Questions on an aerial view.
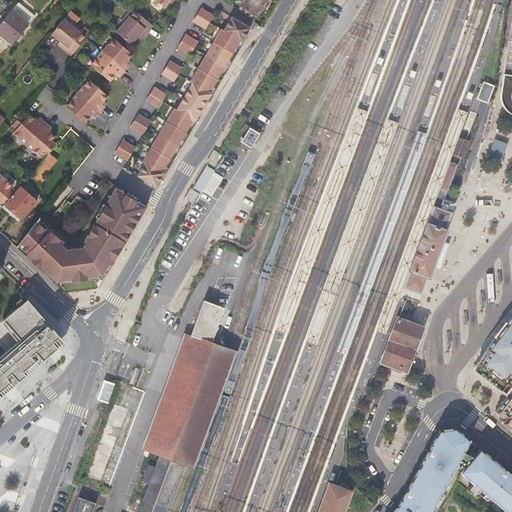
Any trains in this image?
Yes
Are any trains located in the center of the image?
Yes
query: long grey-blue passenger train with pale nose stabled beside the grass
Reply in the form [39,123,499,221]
[224,153,312,392]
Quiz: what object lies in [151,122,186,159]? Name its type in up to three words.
house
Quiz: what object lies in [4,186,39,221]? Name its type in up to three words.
house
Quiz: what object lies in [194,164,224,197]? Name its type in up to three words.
building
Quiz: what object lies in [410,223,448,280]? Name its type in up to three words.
building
